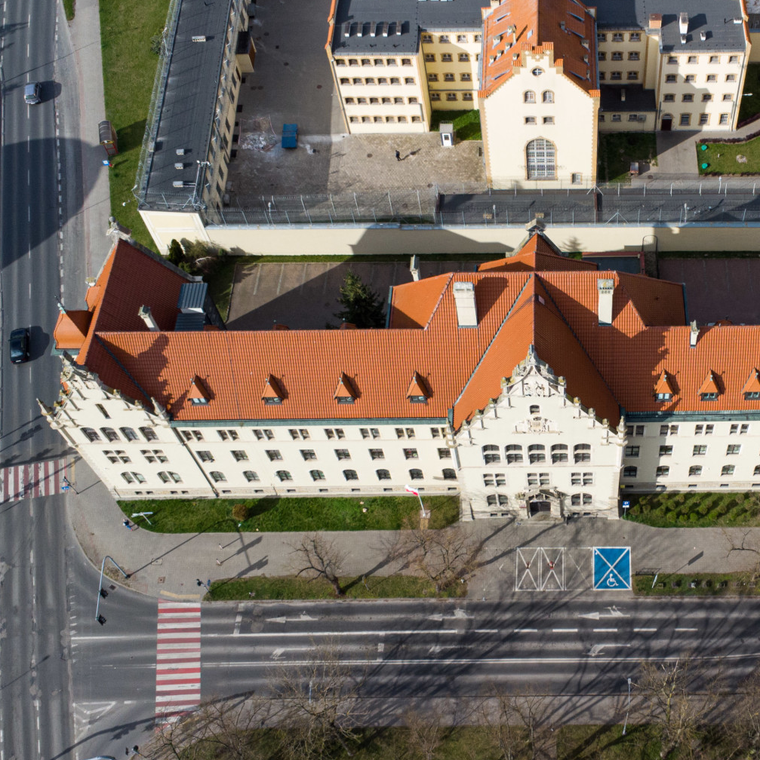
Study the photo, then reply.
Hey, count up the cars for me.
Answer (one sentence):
In total, 2 cars can be seen.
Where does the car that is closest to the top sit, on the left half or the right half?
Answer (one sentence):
You can find the car that is closest to the top on the left side of the picture.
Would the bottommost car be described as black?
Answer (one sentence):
Yes, the bottommost car is black.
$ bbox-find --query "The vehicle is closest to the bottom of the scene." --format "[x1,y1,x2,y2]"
[6,327,29,365]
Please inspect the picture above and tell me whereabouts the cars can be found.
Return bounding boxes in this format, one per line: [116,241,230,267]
[6,327,29,365]
[20,78,40,102]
